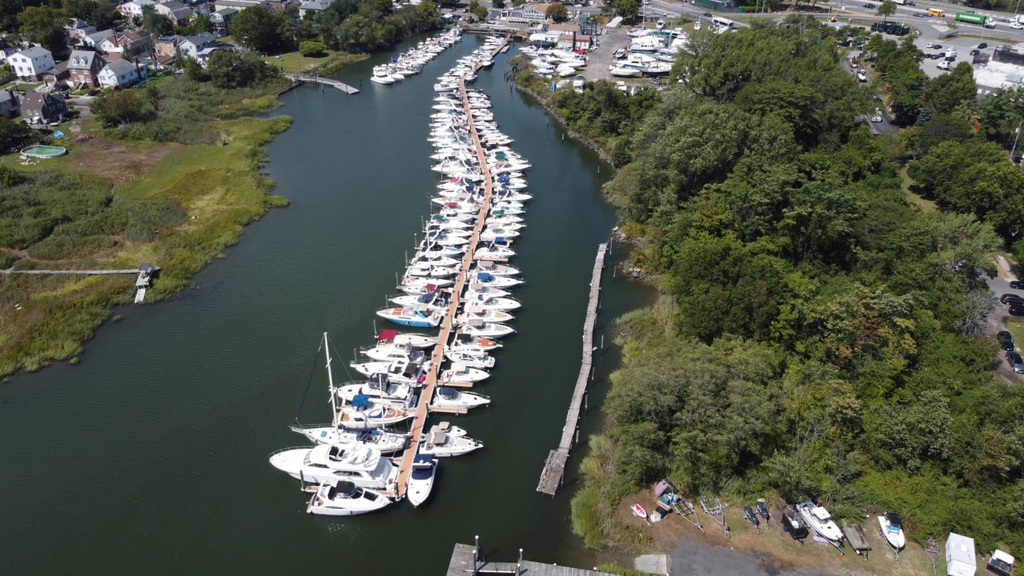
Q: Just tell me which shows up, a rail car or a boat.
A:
boat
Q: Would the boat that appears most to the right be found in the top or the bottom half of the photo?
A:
bottom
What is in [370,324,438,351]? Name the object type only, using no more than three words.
boat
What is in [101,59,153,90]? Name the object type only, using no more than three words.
house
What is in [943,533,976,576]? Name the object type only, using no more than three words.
vehicle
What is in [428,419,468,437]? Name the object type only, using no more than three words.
boat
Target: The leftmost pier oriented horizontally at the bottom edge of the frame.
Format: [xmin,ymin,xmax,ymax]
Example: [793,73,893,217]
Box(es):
[449,544,647,576]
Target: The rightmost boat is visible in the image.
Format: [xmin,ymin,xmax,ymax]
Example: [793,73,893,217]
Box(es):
[872,508,905,550]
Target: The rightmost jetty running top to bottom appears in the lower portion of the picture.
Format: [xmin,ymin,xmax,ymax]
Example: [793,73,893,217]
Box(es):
[535,243,607,495]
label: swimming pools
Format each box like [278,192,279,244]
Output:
[19,144,64,159]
